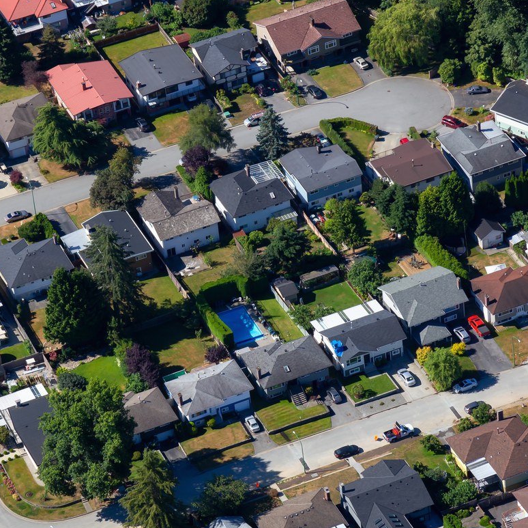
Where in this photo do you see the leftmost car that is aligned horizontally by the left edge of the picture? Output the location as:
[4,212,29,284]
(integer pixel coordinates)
[3,210,30,224]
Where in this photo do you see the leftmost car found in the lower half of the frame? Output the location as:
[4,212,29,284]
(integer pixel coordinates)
[243,414,262,433]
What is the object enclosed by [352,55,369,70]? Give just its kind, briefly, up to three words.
car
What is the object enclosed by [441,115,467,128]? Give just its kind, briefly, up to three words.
vehicle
